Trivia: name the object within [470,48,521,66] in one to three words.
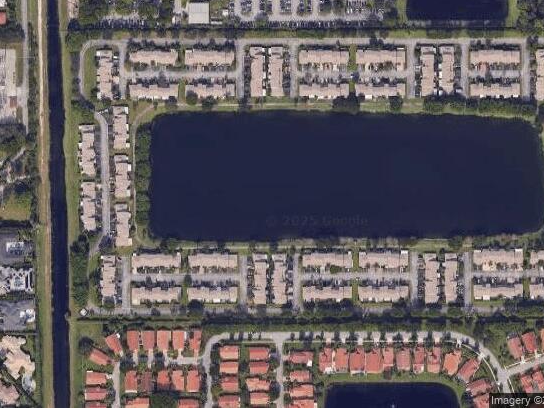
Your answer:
house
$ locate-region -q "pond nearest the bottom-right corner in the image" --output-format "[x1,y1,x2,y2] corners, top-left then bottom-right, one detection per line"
[325,382,461,408]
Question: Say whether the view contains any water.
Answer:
Yes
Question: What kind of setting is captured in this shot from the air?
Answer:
residential area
